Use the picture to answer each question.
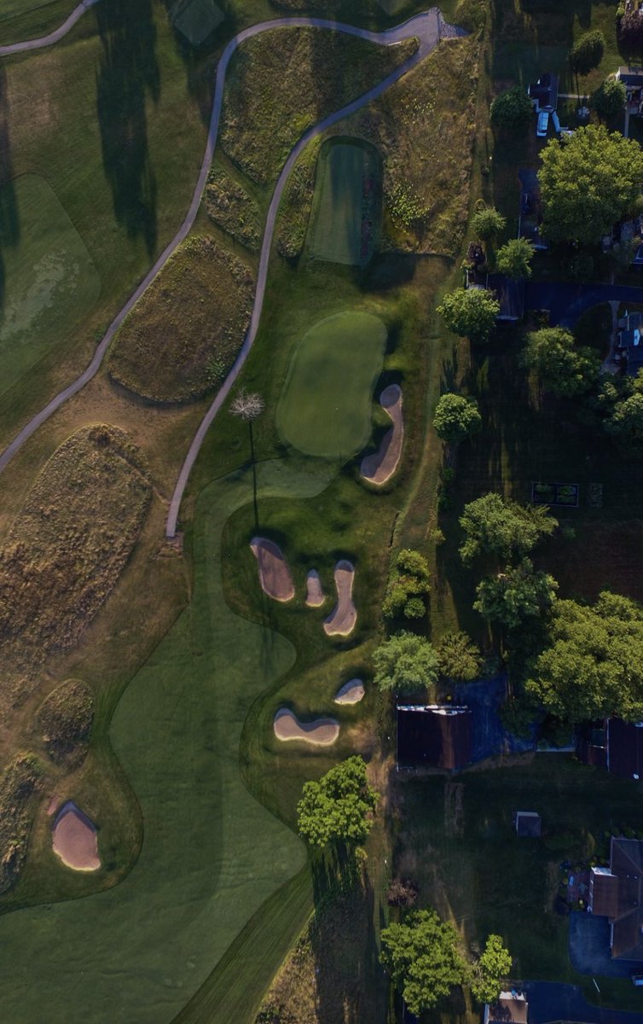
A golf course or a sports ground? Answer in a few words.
golf course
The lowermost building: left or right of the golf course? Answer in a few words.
to the right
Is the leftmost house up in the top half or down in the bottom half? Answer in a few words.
bottom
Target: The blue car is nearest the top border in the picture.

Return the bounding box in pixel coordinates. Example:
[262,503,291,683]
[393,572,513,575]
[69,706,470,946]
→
[537,109,551,135]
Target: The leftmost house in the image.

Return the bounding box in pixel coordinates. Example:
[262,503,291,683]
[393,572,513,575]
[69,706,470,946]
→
[396,705,472,775]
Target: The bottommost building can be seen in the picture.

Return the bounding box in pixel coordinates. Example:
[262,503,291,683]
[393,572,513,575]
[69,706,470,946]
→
[484,991,529,1024]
